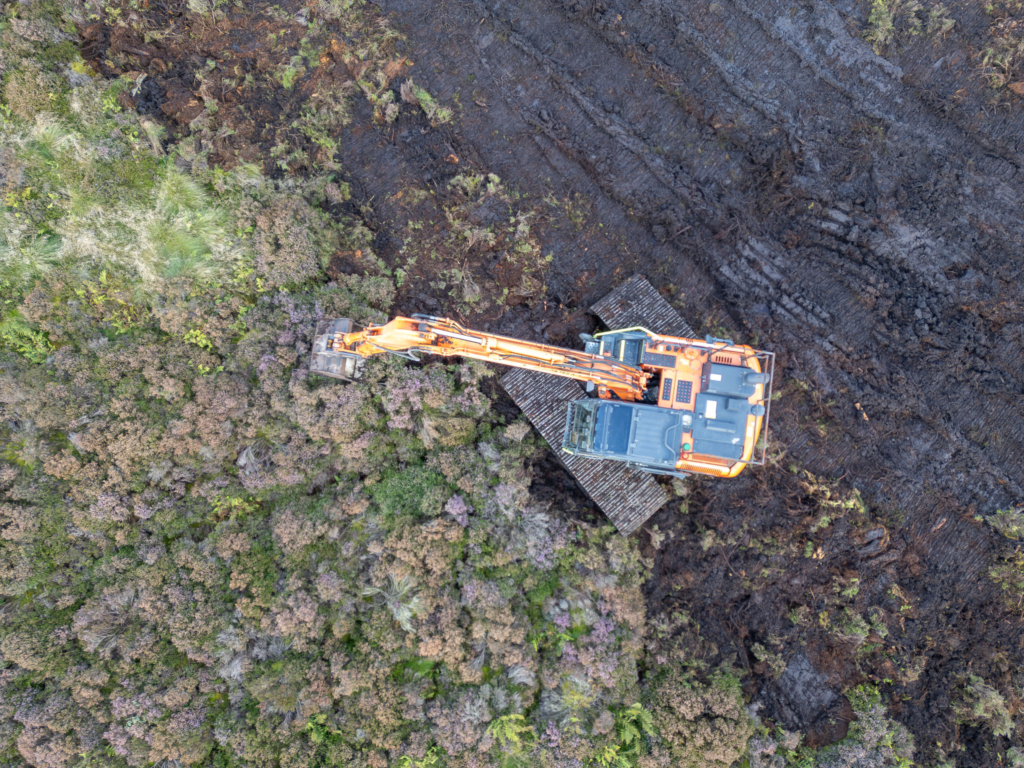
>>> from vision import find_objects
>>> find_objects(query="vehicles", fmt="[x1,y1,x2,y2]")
[309,275,776,537]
